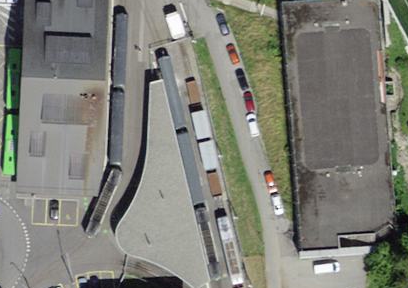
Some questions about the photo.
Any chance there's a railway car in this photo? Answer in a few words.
Yes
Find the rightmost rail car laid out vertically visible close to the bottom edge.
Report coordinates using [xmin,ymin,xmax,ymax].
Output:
[216,217,244,286]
